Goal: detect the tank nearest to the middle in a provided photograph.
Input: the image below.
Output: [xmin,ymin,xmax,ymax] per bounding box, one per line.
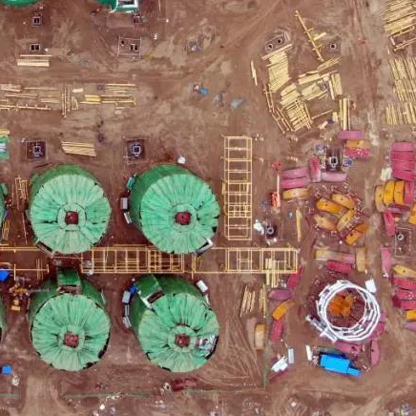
[121,165,221,256]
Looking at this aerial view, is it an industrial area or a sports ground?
industrial area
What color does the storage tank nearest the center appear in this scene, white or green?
green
